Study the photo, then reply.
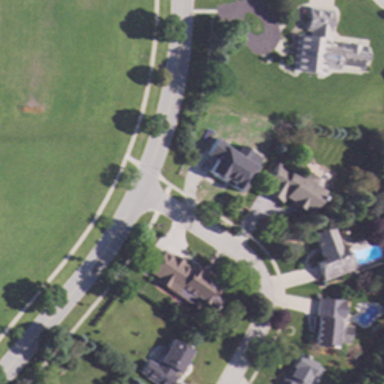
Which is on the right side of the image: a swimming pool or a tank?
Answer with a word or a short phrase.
swimming pool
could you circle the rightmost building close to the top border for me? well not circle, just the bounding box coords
[299,7,370,74]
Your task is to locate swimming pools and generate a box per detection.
[355,244,382,265]
[354,302,384,328]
